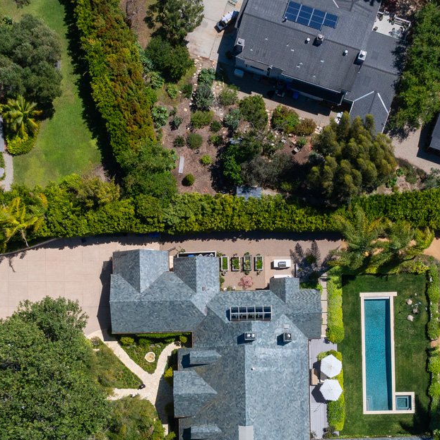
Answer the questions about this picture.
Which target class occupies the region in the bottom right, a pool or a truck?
pool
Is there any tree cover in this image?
Yes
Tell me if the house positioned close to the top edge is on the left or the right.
right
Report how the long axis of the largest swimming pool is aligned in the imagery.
up and down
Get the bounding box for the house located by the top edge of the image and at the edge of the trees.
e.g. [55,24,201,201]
[233,0,411,138]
